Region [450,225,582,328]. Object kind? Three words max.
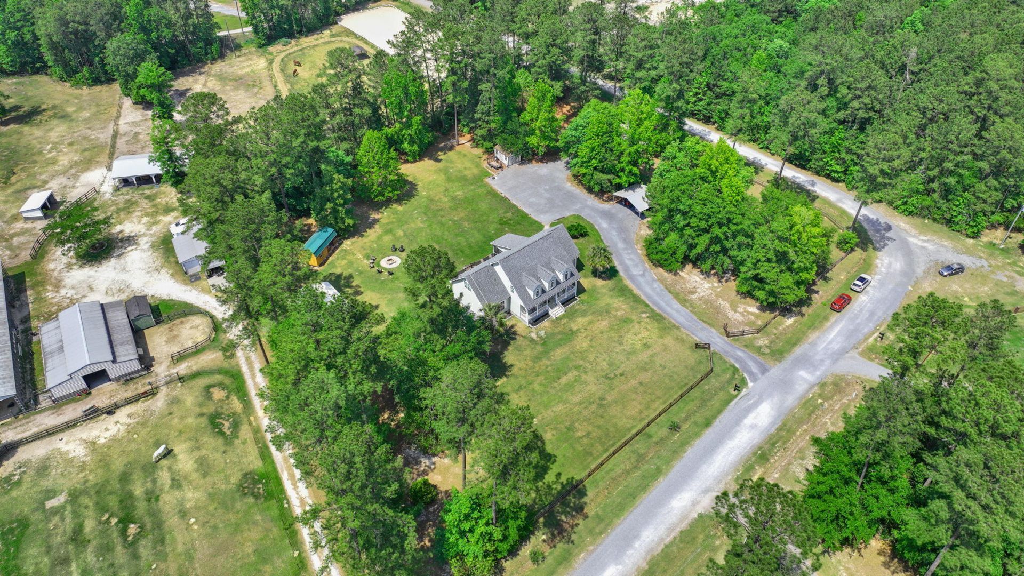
house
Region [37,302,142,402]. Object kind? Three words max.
barn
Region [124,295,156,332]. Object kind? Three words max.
shed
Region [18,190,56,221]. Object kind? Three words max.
shed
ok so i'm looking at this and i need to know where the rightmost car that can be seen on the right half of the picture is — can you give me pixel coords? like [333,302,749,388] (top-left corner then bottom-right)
[938,262,969,277]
